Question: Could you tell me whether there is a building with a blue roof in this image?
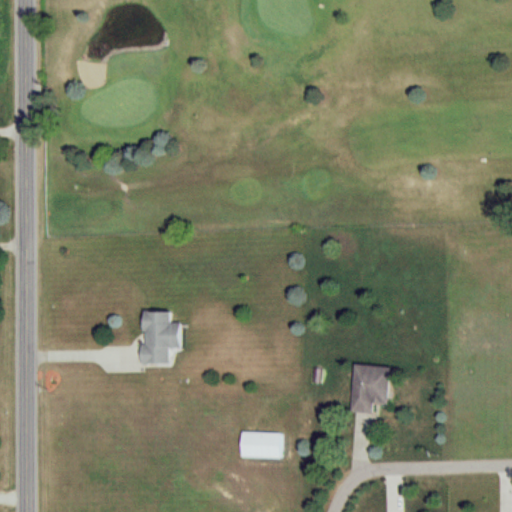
No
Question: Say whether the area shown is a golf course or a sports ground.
golf course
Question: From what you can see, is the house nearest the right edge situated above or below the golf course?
below it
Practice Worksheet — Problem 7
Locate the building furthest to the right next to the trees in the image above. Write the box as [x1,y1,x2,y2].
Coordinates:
[352,364,389,414]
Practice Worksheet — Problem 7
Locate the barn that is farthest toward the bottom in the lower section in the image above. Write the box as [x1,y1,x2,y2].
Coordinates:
[240,432,284,460]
